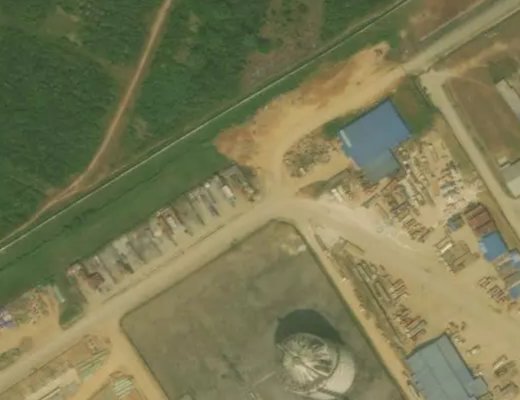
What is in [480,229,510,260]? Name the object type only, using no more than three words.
building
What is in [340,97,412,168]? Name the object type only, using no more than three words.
building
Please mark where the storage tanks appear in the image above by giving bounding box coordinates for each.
[276,330,355,400]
